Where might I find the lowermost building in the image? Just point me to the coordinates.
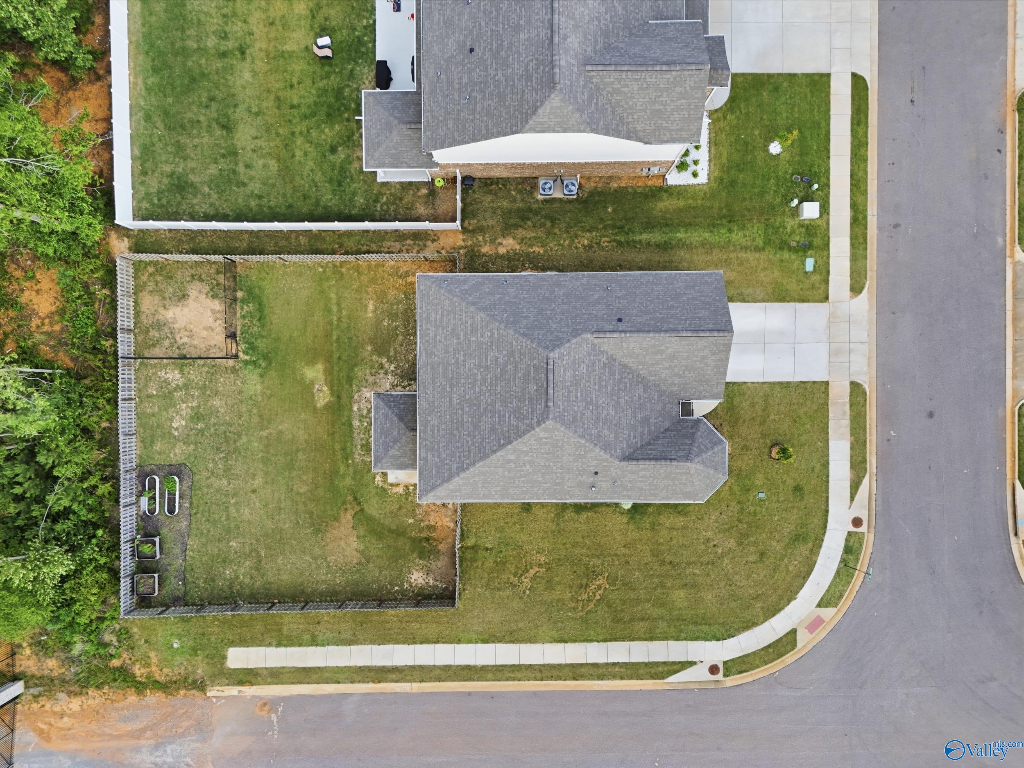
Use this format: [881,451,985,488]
[372,271,733,503]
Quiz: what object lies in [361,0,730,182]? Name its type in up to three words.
house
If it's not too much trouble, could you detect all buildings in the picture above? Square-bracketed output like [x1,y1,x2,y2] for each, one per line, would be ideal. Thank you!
[372,271,733,503]
[361,0,730,182]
